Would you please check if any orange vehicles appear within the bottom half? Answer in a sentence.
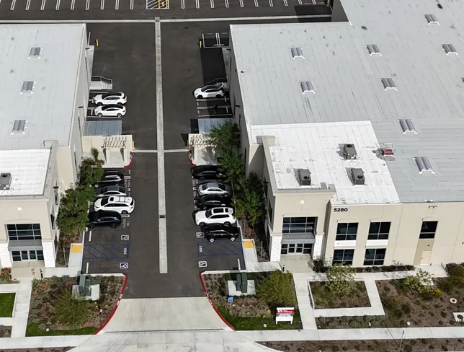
No, there is no orange vehicle within the bottom half.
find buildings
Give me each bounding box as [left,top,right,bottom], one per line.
[223,0,464,266]
[0,24,91,267]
